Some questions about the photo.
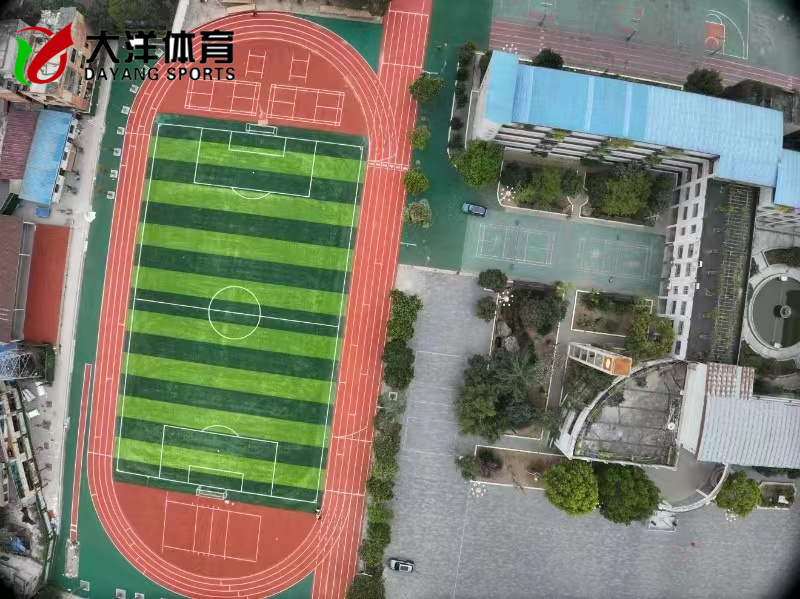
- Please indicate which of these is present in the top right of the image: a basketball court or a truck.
basketball court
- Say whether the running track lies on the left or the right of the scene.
left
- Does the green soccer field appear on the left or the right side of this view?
left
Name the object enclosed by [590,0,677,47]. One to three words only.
basketball court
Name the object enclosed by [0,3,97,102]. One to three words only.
building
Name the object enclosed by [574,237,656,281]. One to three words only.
sports court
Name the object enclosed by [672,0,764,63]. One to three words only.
basketball court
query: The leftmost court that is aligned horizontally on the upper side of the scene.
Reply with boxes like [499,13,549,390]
[185,76,260,117]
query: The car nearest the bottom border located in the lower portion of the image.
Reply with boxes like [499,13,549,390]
[388,558,415,574]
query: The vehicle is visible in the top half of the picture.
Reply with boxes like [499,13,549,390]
[462,201,488,216]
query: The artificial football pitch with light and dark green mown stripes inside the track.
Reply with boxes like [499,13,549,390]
[114,112,366,513]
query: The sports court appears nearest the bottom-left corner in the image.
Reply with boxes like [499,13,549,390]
[161,495,262,562]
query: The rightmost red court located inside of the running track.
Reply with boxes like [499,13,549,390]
[267,84,344,126]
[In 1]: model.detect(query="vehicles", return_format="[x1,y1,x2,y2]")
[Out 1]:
[462,201,488,216]
[388,558,415,574]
